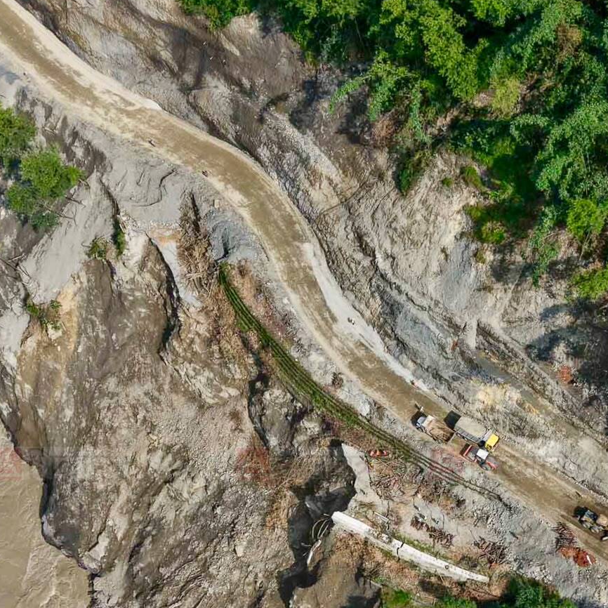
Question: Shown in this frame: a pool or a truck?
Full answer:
Of the two, only a truck appears.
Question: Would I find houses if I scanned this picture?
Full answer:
No, this view has no house in it.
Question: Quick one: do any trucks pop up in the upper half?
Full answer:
No, no truck appears in the upper half.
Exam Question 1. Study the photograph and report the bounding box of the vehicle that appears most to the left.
[415,415,459,447]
